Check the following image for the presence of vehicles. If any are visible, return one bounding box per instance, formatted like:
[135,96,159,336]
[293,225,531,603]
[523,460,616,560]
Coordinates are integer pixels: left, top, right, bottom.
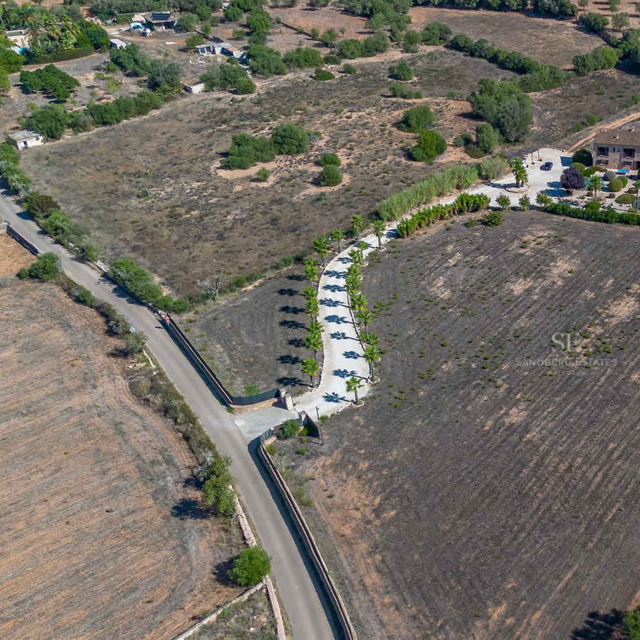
[542,161,554,171]
[514,158,534,168]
